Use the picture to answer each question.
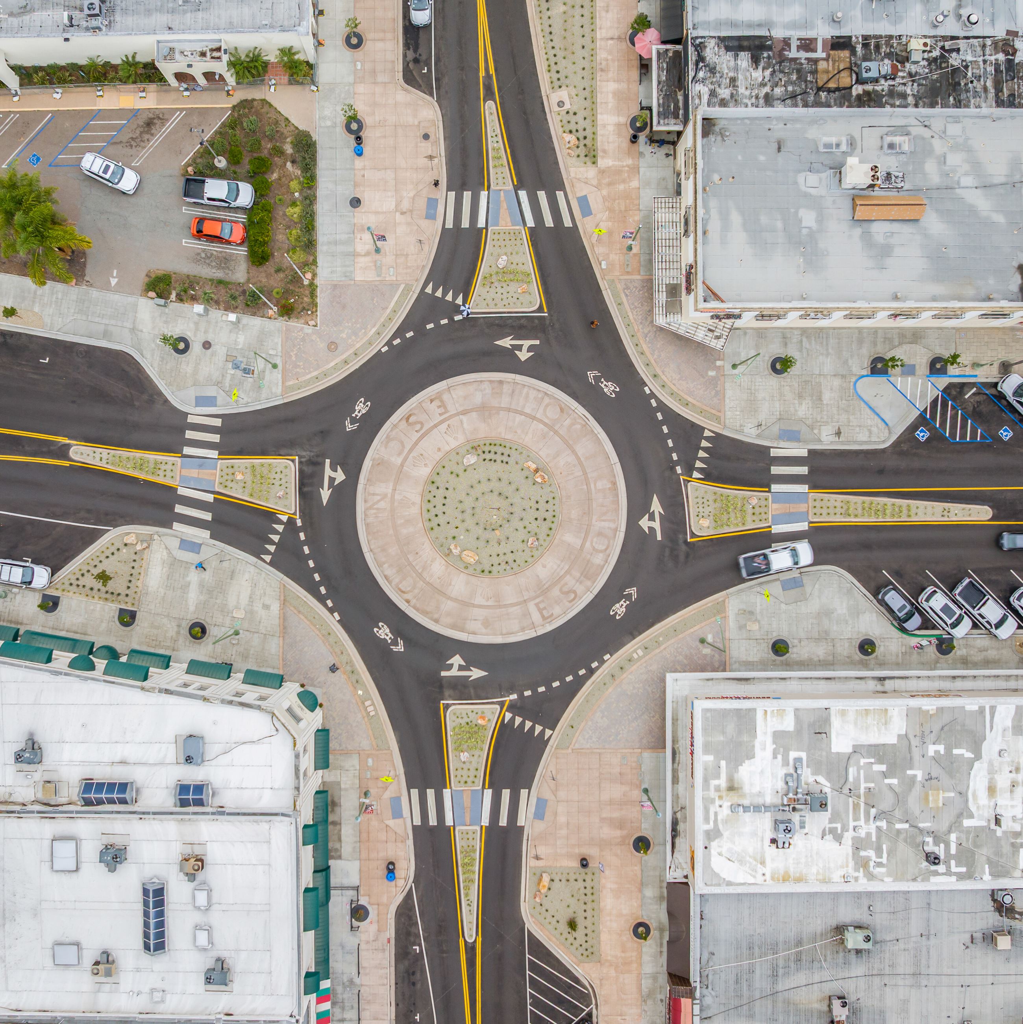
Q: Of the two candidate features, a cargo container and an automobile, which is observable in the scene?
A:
automobile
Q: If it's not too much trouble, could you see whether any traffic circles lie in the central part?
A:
Yes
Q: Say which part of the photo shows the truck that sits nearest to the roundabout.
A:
right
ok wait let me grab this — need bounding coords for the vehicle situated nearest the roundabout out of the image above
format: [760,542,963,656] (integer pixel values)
[733,541,815,582]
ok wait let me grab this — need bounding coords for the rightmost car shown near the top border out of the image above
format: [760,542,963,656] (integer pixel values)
[406,0,435,30]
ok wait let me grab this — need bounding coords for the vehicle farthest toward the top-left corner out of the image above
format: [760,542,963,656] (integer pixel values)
[77,148,142,197]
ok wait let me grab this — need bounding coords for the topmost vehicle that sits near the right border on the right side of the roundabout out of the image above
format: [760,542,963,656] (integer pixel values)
[998,376,1023,424]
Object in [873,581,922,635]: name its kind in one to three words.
car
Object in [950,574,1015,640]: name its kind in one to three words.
truck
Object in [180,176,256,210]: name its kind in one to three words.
truck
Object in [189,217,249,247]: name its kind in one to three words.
car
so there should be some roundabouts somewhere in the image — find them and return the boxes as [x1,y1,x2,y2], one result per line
[296,315,682,703]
